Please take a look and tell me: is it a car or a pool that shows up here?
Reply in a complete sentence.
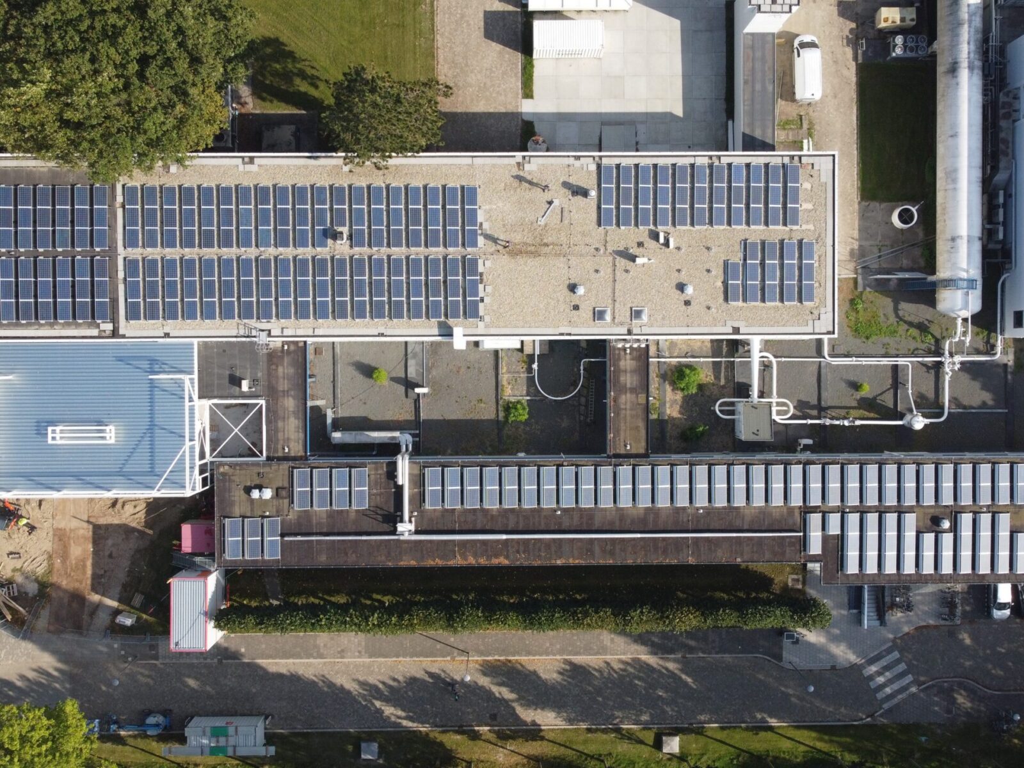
The one in the frame is a car.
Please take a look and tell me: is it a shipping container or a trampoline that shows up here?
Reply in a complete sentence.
It is a shipping container that can be seen here.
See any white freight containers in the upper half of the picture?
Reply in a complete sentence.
Yes, a white freight container shows up in the upper half of the picture.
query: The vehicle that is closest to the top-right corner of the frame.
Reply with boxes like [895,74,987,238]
[789,42,819,107]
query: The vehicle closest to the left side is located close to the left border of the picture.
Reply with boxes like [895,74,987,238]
[0,500,21,531]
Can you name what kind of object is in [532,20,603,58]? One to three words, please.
shipping container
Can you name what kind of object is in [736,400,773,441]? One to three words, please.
building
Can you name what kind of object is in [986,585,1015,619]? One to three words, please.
car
